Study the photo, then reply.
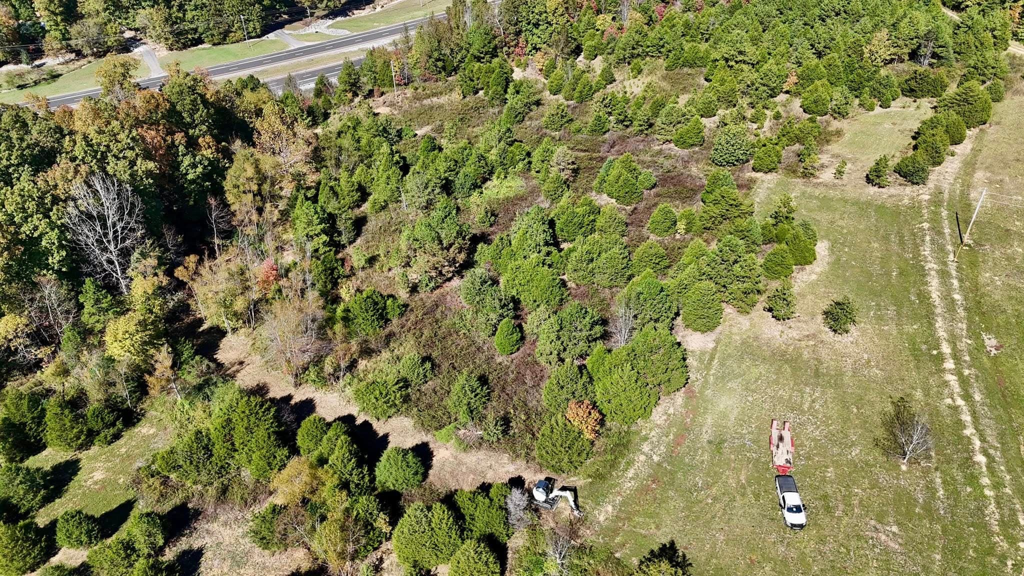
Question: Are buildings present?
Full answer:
No, this view has no building in it.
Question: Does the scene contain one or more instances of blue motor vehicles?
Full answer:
No, I can see no blue motor vehicle in this picture.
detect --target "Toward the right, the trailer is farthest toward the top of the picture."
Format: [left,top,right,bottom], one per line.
[767,418,800,476]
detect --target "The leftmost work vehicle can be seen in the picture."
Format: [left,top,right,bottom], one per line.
[528,476,581,518]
